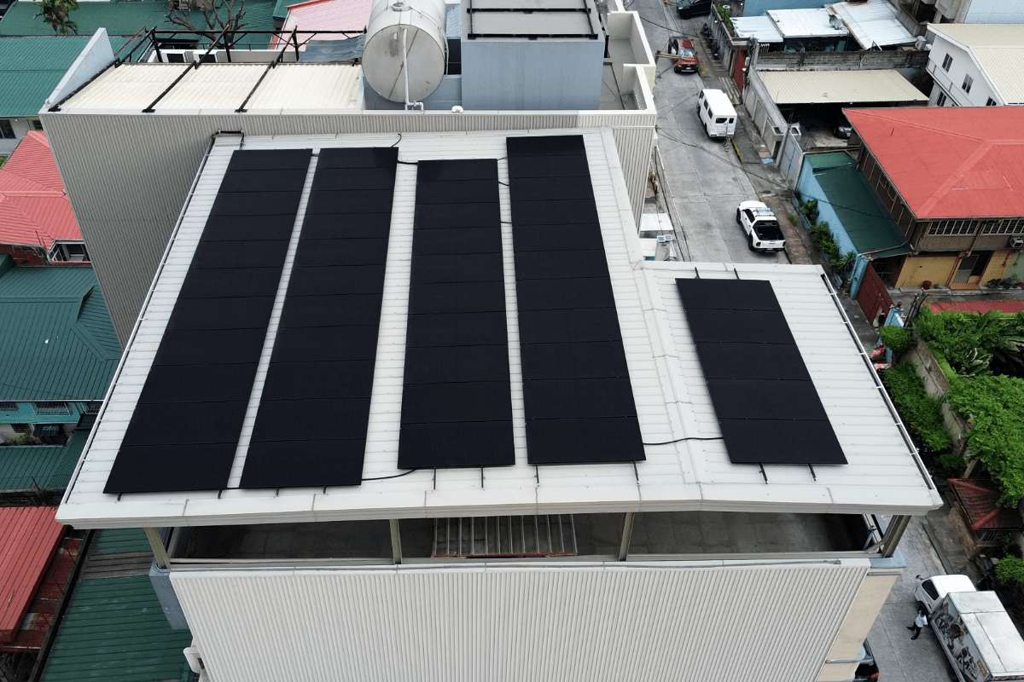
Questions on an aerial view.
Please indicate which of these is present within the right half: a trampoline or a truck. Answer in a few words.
truck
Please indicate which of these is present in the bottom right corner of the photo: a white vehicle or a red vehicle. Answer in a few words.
white vehicle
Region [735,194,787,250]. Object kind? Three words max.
truck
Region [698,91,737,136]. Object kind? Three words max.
van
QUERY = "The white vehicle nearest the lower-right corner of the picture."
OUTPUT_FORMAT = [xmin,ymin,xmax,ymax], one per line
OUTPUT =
[913,569,1024,682]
